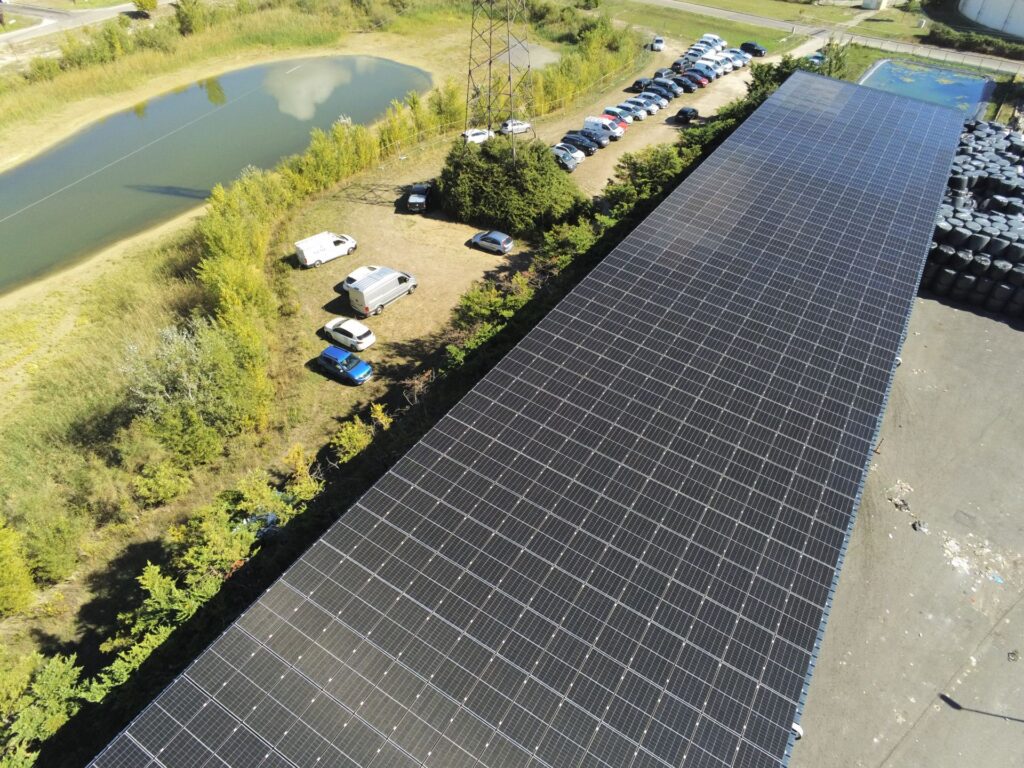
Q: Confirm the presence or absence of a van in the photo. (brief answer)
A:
Yes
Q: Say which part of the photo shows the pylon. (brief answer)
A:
top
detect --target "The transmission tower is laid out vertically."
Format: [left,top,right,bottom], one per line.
[465,0,535,235]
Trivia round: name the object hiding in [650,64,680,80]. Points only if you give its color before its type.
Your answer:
gray vehicle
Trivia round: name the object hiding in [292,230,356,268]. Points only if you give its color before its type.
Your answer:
white van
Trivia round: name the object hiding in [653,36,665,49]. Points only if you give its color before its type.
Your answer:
white vehicle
